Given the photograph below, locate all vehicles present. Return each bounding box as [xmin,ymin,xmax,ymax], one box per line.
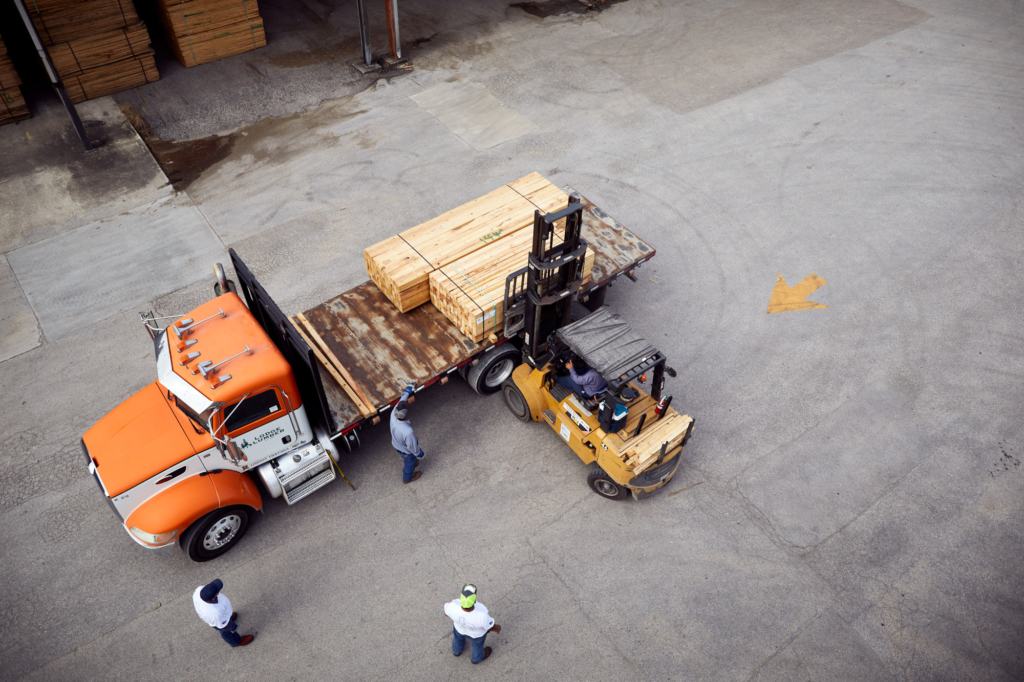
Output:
[501,185,700,507]
[75,184,658,621]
